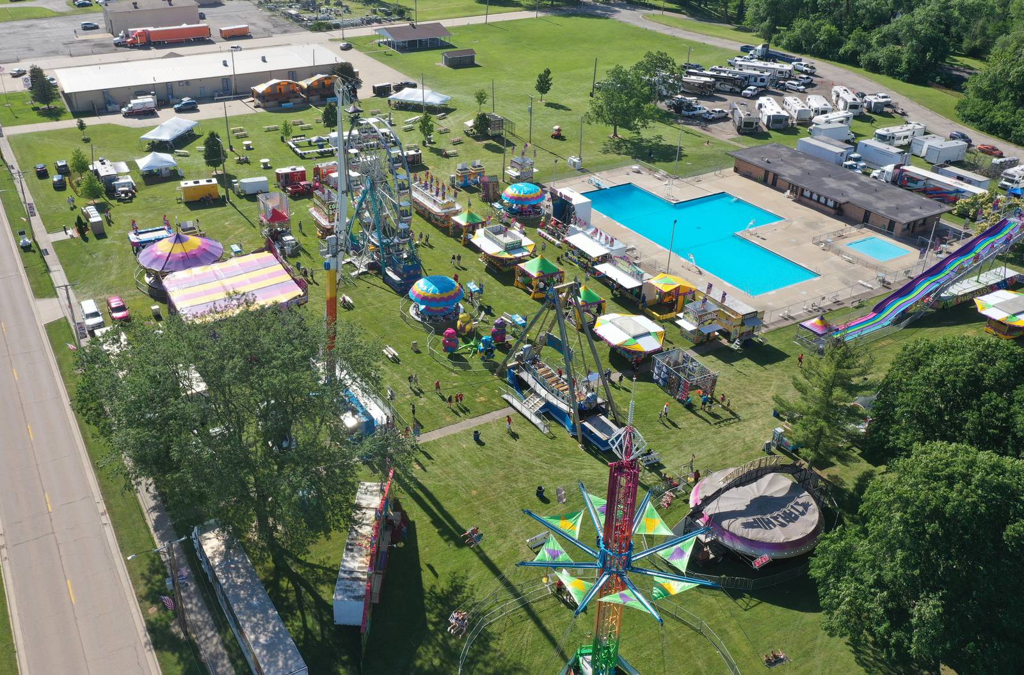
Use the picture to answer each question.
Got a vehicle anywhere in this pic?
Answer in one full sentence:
Yes, this view includes a vehicle.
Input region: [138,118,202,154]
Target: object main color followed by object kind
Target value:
white tent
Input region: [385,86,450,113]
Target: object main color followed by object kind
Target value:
white tent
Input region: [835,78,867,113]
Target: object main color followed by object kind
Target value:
white vehicle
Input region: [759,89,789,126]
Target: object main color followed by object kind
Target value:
white vehicle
